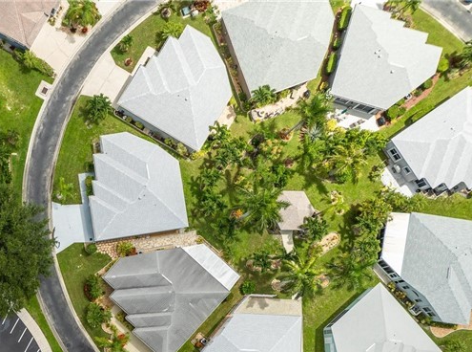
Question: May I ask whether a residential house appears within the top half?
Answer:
Yes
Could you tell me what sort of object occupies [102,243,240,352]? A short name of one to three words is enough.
house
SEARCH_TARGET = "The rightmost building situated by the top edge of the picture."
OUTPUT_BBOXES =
[325,3,444,113]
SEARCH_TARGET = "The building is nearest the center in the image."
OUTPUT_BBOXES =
[271,191,314,231]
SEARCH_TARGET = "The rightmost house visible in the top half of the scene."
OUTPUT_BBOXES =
[386,82,472,189]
